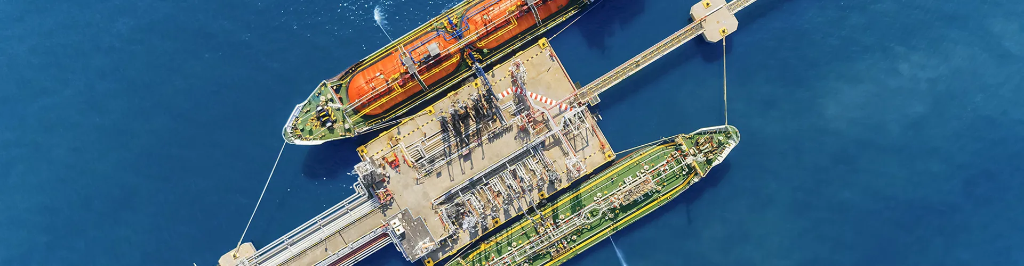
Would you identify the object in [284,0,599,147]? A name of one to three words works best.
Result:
ship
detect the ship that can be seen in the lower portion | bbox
[438,123,740,266]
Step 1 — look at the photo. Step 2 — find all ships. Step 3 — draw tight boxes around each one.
[438,123,740,266]
[284,0,599,147]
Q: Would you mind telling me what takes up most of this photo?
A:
water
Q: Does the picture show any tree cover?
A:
No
